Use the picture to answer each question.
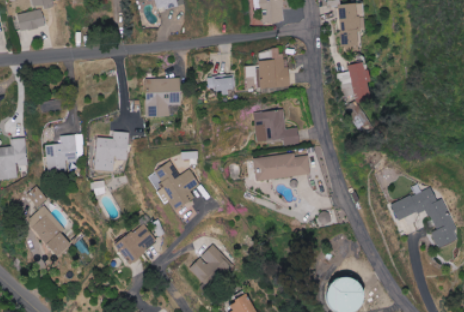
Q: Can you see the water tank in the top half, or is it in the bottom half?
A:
bottom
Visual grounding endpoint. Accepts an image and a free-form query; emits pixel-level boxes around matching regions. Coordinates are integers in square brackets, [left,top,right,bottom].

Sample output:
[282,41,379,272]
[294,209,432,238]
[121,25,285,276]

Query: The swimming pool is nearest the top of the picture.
[144,3,158,25]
